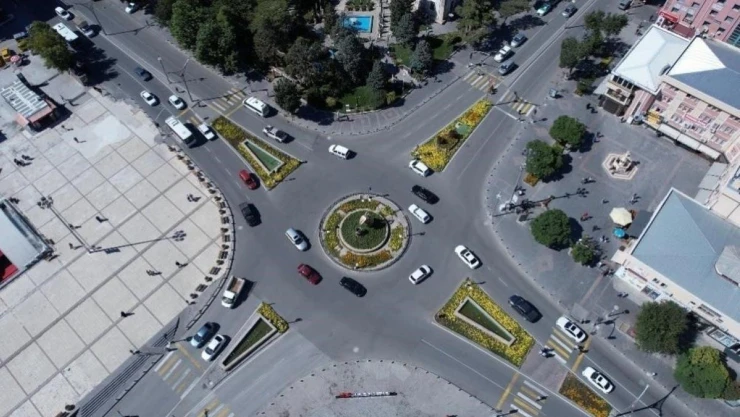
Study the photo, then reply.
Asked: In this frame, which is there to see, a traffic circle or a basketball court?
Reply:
traffic circle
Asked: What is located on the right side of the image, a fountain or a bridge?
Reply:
fountain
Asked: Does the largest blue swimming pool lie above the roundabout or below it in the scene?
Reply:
above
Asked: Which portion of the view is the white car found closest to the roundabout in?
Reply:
center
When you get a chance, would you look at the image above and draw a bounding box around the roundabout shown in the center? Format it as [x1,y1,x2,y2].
[319,193,411,272]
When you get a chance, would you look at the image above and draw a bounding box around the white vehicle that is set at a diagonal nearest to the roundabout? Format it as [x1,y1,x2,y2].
[408,204,434,225]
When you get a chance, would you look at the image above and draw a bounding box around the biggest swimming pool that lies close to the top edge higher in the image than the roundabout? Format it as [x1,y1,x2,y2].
[338,12,374,33]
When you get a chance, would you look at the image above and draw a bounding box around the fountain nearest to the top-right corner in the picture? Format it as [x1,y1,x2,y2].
[603,154,638,181]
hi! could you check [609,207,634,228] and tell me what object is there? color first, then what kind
white umbrella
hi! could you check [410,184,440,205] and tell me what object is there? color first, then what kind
black car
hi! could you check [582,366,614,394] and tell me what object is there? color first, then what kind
white car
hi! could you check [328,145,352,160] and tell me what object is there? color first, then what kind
white vehicle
